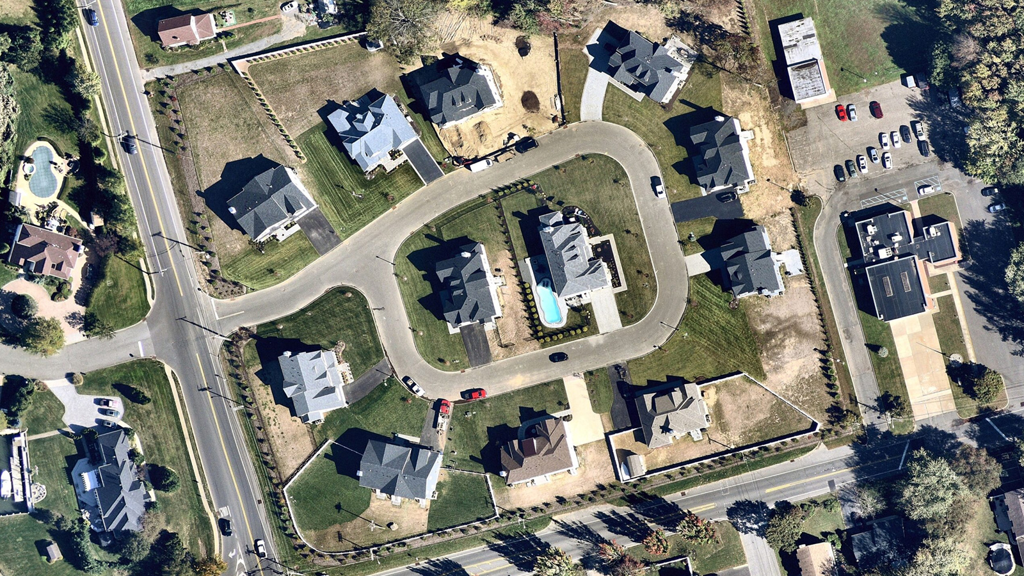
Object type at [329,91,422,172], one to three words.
house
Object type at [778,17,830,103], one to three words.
building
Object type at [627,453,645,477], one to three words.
shed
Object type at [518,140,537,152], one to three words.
vehicle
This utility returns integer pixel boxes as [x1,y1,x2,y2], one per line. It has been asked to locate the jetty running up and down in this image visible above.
[5,439,26,501]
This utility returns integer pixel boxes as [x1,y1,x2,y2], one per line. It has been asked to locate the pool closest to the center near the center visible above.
[535,276,563,325]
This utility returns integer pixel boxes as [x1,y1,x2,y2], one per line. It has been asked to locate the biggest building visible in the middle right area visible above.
[855,212,960,320]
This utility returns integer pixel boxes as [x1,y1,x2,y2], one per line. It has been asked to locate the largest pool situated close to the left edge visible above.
[28,145,58,199]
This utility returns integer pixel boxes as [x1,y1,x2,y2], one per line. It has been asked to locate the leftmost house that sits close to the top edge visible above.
[158,13,216,49]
